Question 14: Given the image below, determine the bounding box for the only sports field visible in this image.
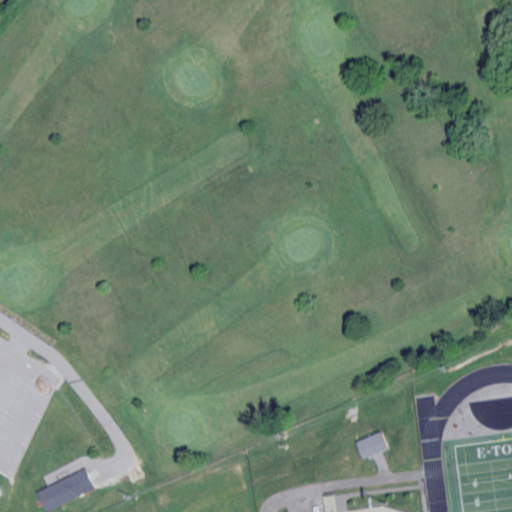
[442,436,512,512]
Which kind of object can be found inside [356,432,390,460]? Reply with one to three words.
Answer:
house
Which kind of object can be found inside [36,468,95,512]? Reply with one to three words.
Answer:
building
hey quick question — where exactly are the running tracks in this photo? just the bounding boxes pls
[416,364,512,512]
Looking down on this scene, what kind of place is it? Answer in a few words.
golf course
